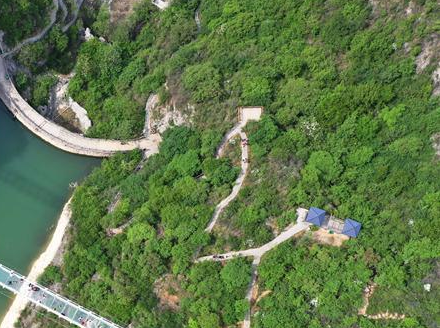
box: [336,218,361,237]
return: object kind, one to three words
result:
building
